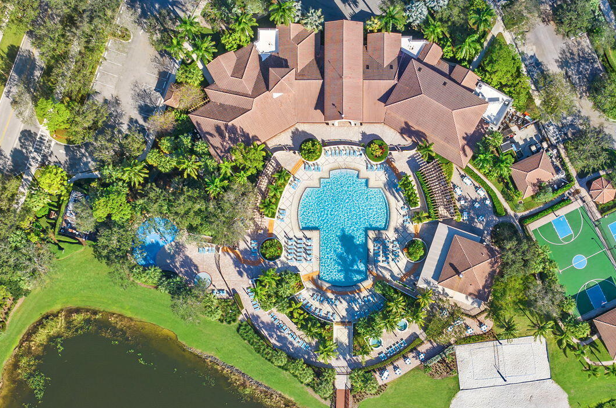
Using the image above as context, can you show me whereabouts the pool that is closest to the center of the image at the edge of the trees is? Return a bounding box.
[294,162,391,287]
